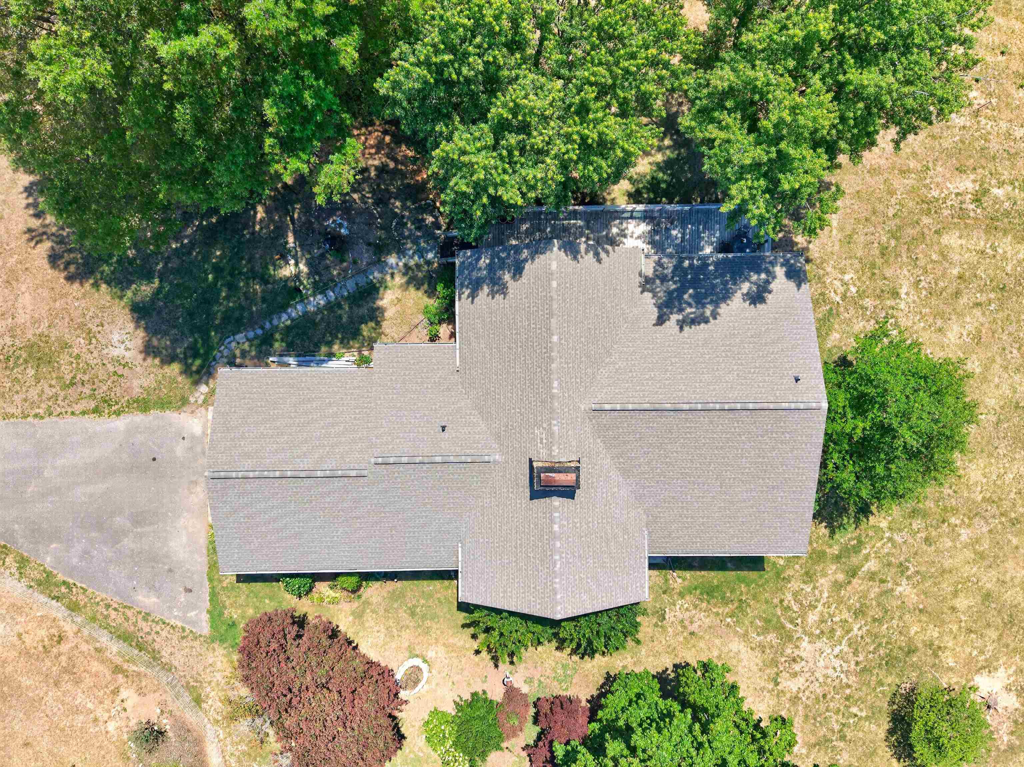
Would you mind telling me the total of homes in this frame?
1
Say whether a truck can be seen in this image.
No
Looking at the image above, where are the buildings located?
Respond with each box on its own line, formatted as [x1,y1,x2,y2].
[206,238,829,619]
